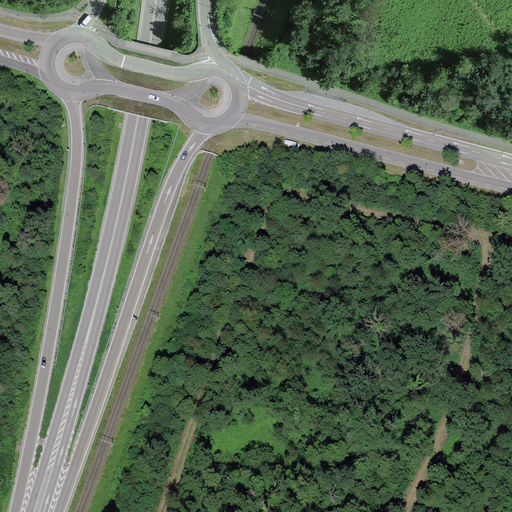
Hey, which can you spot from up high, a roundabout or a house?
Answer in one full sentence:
There is a roundabout in the scene.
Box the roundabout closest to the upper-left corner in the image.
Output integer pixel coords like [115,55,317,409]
[38,26,118,102]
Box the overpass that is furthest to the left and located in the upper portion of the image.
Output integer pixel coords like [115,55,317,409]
[110,38,184,122]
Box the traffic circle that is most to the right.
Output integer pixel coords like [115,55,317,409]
[162,60,251,135]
